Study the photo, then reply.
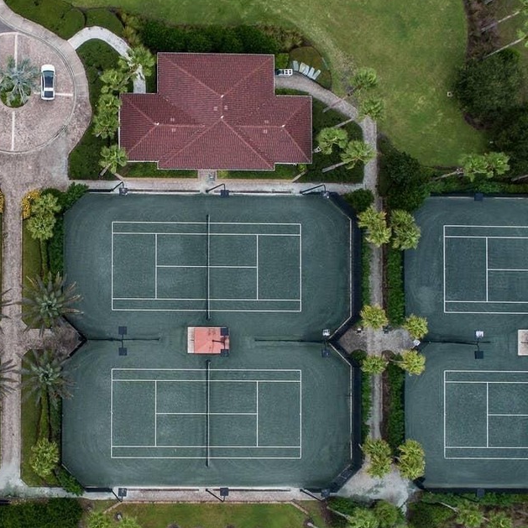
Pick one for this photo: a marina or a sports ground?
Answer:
sports ground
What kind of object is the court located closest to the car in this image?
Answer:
tennis court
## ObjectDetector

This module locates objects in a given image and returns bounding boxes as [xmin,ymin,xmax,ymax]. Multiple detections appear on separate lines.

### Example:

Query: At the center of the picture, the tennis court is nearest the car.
[64,192,352,340]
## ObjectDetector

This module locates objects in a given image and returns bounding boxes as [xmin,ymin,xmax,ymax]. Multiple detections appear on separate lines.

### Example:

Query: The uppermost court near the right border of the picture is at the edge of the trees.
[402,196,528,341]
